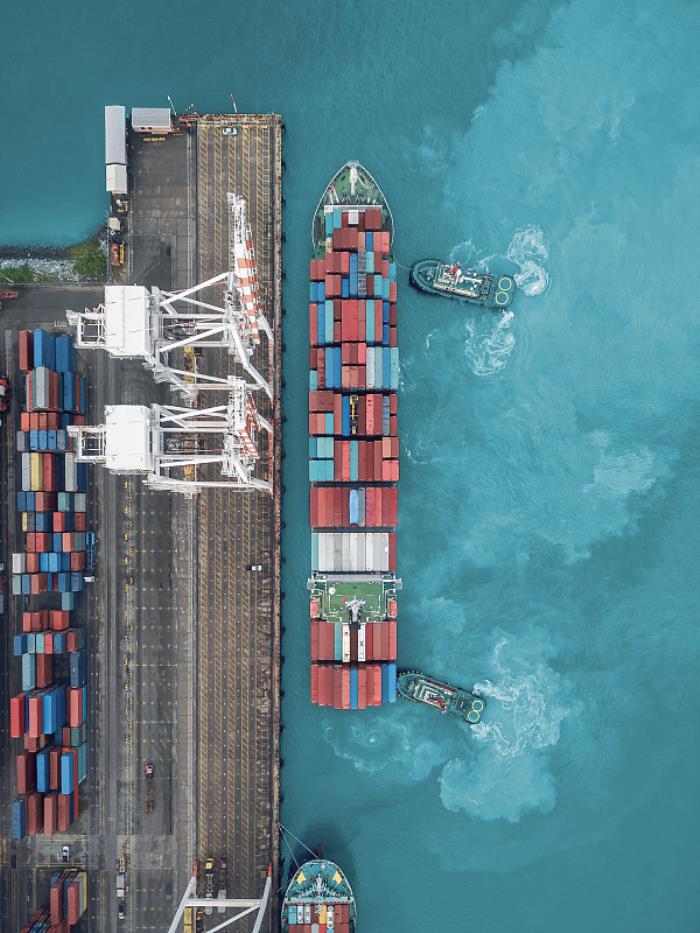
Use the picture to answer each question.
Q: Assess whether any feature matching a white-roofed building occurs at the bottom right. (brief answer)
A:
No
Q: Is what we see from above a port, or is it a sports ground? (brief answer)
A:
port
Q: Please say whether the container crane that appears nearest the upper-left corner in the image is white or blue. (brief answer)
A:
white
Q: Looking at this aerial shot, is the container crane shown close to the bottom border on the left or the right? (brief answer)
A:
left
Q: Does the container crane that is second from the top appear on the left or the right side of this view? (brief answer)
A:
left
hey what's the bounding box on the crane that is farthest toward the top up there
[66,185,274,410]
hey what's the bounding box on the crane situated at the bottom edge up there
[169,866,274,933]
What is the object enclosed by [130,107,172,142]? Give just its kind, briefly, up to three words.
building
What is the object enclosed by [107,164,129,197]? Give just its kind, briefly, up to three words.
building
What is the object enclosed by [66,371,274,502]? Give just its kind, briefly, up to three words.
container crane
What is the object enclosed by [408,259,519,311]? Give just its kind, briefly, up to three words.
boat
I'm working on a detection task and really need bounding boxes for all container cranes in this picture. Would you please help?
[66,185,274,410]
[66,371,274,502]
[169,866,274,933]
